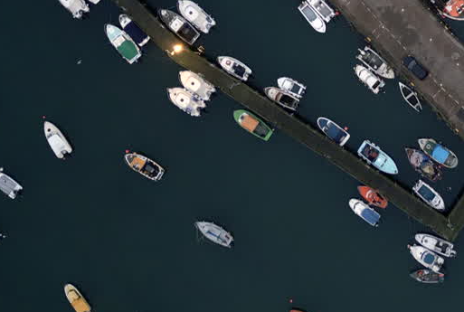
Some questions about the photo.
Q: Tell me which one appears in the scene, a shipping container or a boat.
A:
boat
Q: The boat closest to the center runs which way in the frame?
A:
on a diagonal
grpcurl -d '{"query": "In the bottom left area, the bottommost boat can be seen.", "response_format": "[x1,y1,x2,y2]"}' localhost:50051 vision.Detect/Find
[63,285,94,312]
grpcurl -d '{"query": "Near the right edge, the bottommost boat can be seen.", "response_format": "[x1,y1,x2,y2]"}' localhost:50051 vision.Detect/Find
[410,270,444,284]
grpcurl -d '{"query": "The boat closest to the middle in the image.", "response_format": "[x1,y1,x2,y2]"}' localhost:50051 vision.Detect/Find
[233,109,277,145]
